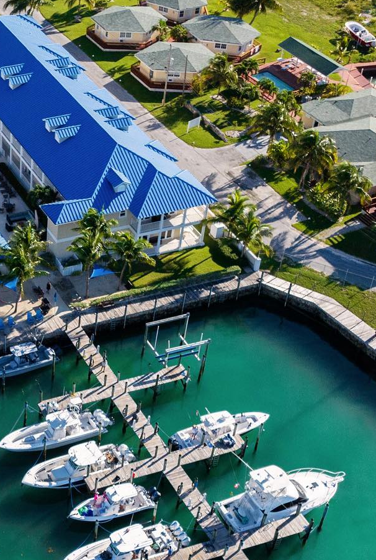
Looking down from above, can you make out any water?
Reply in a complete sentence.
Yes, water shows up in the scene.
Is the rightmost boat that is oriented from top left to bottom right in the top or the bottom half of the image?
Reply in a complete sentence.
You can find the rightmost boat that is oriented from top left to bottom right in the top half.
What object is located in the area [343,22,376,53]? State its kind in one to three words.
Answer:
boat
